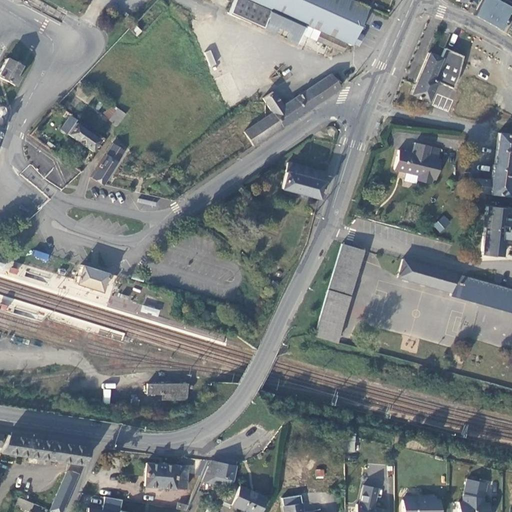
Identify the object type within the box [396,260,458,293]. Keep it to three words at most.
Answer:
building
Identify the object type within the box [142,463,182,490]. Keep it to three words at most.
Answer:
house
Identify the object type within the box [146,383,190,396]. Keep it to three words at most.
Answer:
shed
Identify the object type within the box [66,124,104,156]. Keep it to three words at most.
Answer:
house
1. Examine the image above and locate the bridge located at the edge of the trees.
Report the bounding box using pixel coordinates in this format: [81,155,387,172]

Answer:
[228,334,285,406]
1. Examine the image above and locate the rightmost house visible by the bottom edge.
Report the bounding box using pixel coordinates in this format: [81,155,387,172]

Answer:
[460,479,494,512]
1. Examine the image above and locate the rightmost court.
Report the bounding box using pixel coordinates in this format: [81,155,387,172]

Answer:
[371,282,464,343]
